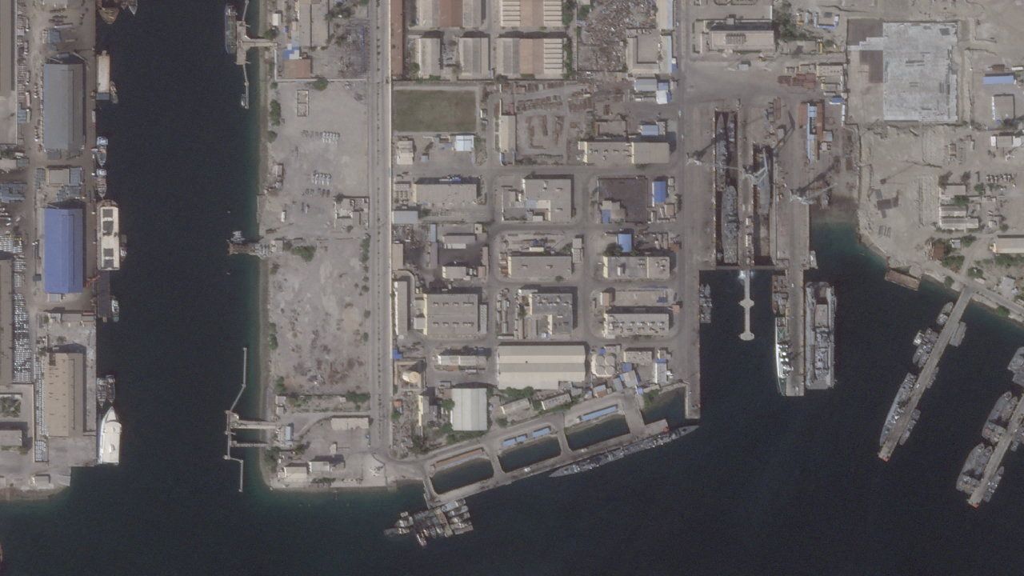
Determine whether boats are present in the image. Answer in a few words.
Yes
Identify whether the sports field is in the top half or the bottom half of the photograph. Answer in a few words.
top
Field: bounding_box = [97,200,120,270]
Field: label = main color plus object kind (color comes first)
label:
white ship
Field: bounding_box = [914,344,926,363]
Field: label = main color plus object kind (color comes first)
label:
gray boat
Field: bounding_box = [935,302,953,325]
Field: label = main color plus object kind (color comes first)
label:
gray ship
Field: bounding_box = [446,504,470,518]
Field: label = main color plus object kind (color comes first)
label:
gray boat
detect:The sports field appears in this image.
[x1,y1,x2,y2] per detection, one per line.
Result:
[394,86,480,134]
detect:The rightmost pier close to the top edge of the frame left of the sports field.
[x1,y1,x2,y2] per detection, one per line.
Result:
[234,0,277,109]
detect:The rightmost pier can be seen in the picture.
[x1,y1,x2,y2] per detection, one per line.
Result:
[969,393,1024,508]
